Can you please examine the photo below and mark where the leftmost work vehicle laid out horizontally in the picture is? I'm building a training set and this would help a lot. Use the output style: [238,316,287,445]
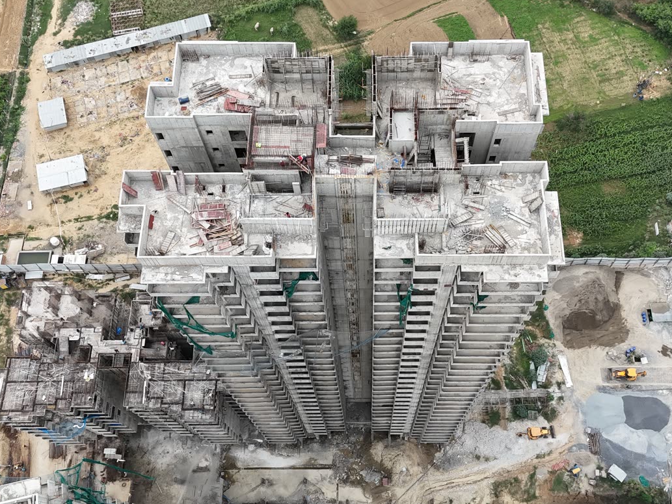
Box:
[515,425,557,439]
